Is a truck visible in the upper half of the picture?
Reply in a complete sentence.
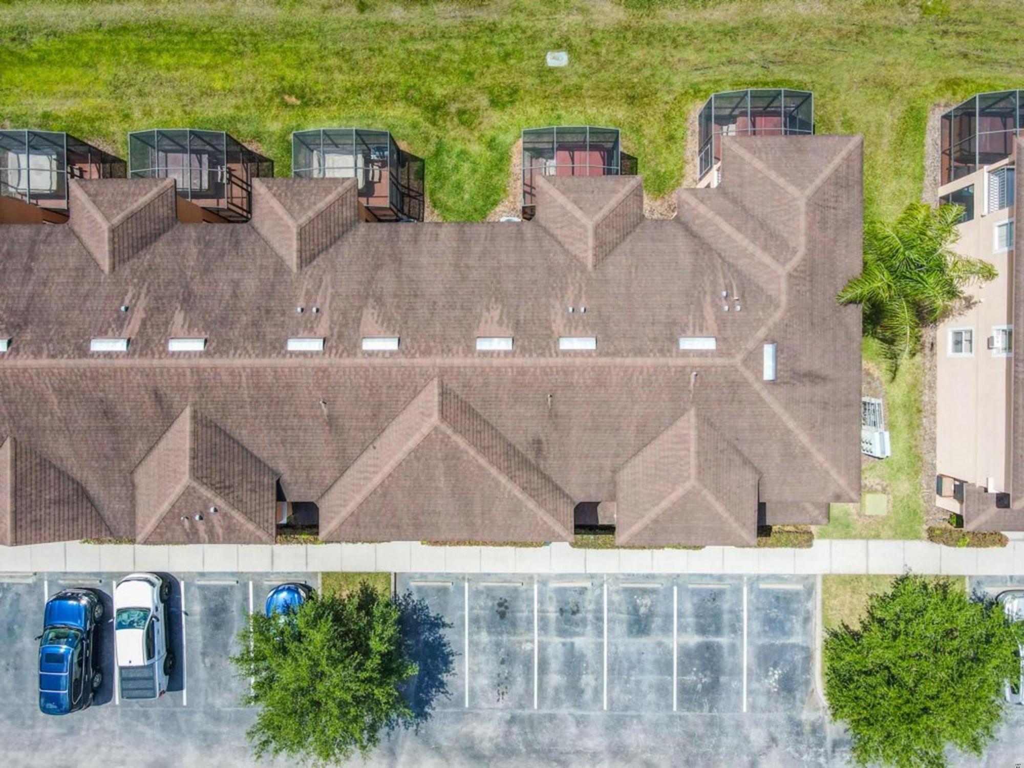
No, no truck appears in the upper half of the picture.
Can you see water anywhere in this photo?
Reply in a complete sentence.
No, the picture contains no water.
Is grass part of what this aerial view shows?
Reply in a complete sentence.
Yes, there is grass in the image.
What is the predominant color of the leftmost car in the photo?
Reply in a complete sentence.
The leftmost car looks blue in the image.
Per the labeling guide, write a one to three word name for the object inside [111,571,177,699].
truck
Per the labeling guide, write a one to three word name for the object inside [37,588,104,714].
car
